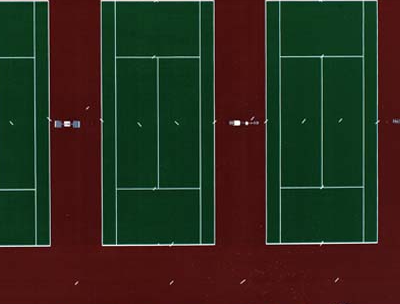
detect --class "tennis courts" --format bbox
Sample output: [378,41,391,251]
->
[265,0,378,245]
[0,0,51,248]
[101,0,216,247]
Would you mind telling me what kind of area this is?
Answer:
sports ground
